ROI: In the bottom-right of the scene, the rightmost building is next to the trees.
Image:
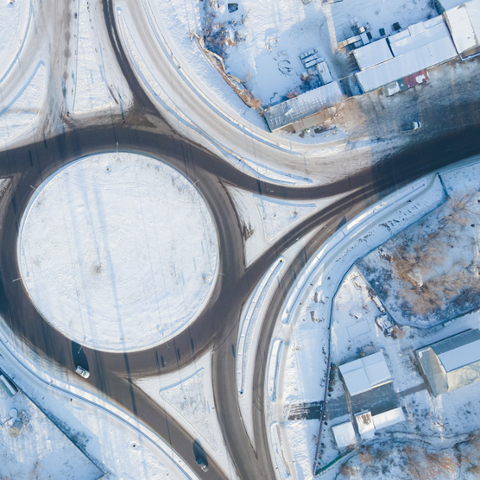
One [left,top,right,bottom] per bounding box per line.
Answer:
[423,329,480,391]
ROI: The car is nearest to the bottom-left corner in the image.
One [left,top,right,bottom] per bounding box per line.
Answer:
[74,365,89,378]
